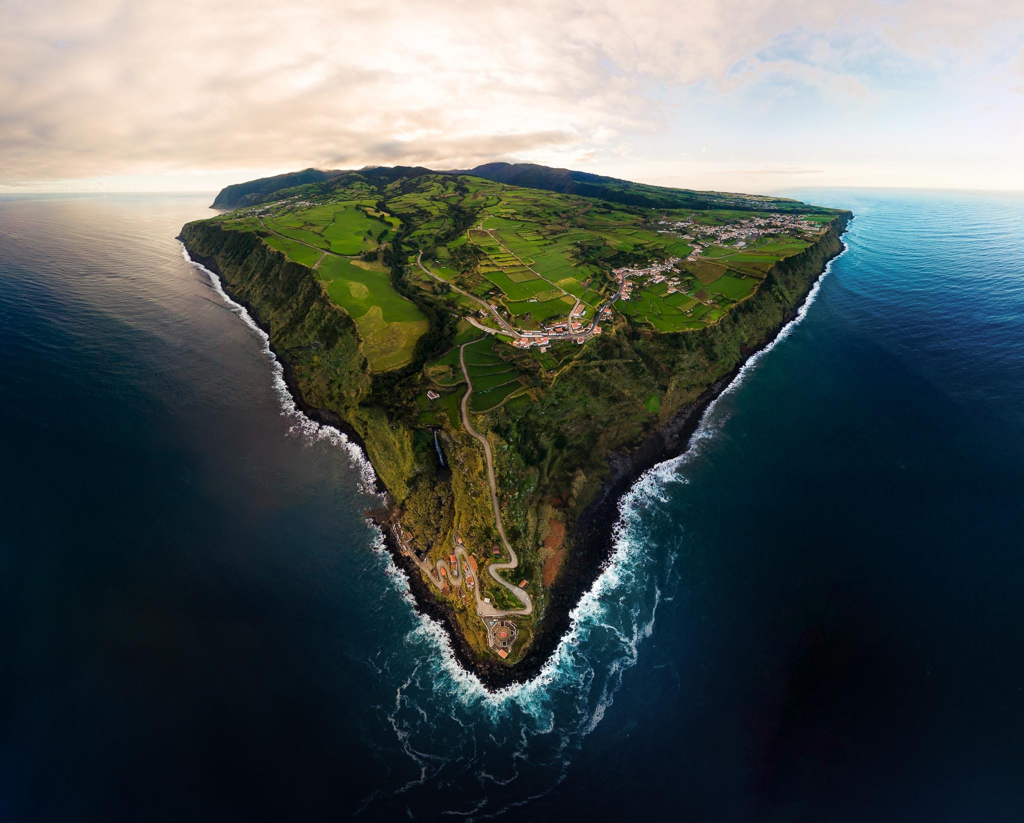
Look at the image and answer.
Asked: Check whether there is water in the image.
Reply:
Yes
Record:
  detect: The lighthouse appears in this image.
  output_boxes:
[489,619,518,650]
